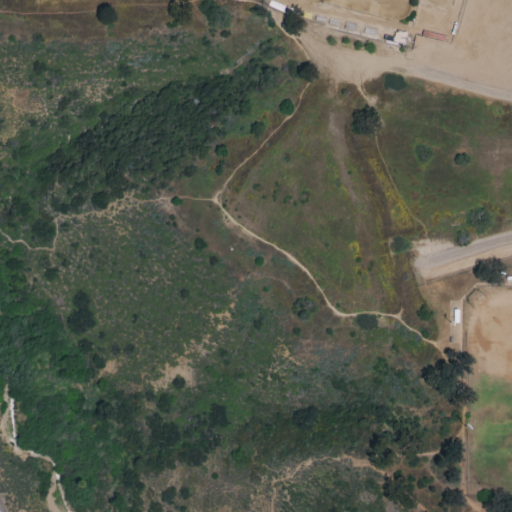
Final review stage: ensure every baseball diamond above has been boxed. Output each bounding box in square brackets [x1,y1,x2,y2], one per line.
[464,285,512,500]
